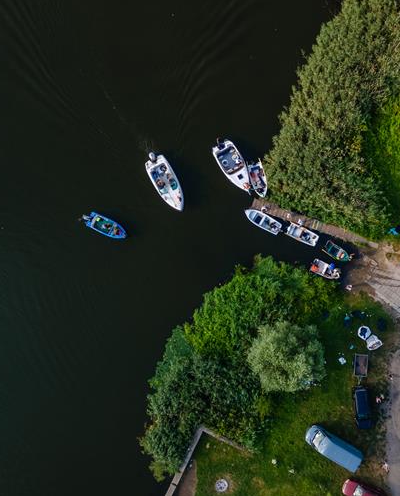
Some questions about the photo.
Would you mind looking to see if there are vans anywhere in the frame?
Yes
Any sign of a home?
No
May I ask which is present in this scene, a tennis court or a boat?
boat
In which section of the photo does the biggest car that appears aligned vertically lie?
bottom right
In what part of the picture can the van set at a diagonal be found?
bottom right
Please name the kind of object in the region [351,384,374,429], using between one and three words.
car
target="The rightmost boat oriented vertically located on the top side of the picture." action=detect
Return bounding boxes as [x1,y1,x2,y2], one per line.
[245,160,266,197]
